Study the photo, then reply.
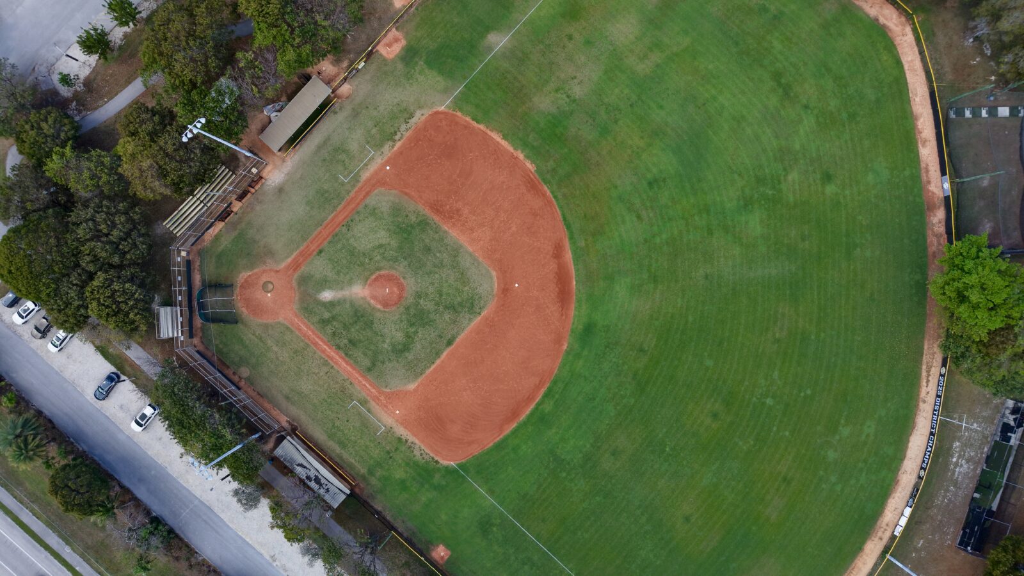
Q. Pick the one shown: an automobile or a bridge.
automobile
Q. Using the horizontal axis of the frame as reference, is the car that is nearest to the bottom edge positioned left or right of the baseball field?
left of it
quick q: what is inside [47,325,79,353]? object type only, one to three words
car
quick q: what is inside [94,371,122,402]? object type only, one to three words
car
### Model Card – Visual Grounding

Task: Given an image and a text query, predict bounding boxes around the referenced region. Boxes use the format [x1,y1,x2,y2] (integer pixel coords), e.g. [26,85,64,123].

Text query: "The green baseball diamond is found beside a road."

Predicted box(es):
[189,0,947,576]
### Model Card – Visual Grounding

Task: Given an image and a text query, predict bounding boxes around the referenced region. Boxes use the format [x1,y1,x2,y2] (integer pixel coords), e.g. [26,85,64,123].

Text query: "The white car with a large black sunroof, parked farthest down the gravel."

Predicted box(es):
[132,404,159,433]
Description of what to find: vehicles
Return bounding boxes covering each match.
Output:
[94,371,122,402]
[47,325,79,353]
[12,299,43,327]
[132,404,159,433]
[31,315,55,338]
[0,283,29,309]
